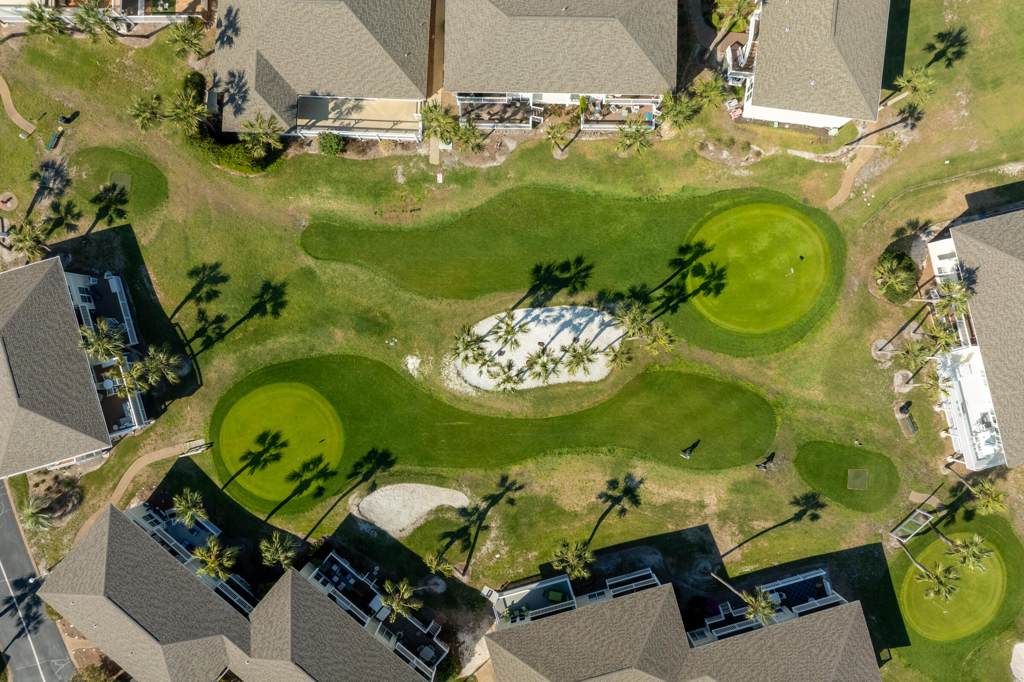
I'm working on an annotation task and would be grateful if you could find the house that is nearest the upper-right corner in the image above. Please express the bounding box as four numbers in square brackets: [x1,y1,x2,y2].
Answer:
[725,0,894,131]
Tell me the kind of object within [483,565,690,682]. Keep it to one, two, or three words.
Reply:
house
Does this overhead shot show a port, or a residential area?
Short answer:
residential area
